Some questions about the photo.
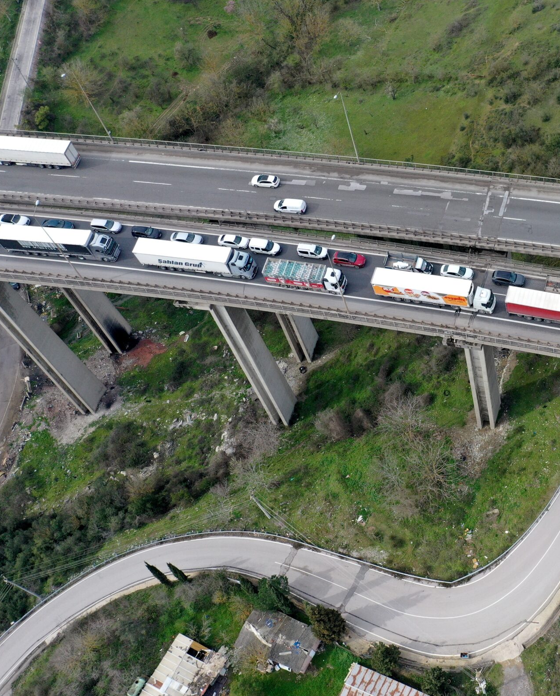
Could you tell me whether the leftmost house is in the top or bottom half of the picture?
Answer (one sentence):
Seen from above, the leftmost house lies in the bottom half of the view.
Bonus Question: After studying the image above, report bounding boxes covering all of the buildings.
[230,611,322,677]
[333,662,418,696]
[134,635,216,696]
